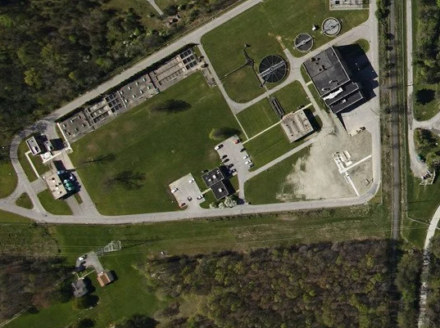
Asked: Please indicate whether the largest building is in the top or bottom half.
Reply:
top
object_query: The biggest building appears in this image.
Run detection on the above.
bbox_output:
[302,46,366,113]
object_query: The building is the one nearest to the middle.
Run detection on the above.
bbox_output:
[202,167,232,200]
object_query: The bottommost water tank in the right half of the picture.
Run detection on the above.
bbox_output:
[258,55,288,83]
